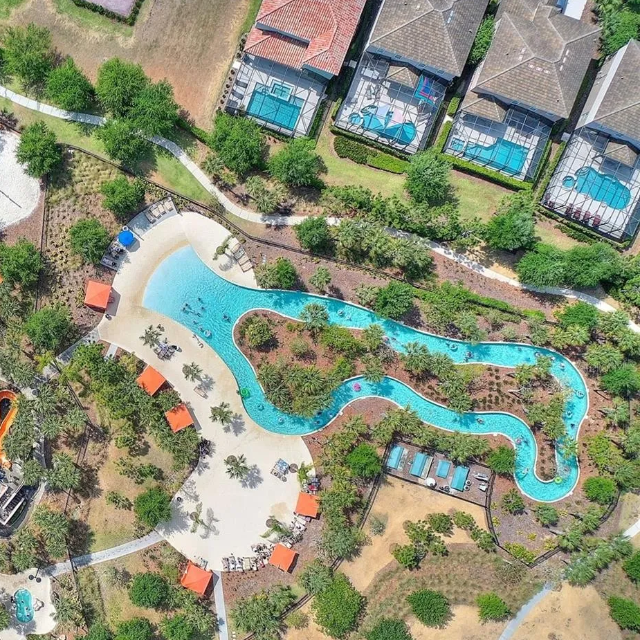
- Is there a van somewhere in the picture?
No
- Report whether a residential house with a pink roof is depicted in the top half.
Yes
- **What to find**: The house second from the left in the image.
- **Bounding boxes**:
[360,0,488,91]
